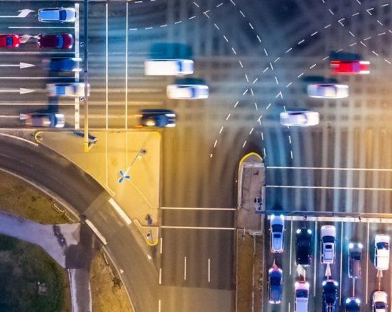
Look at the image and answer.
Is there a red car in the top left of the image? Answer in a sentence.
Yes, there is a red car in the top left of the image.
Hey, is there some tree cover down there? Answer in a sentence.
No, the scene doesn't show any tree cover.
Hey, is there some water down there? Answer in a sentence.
No, the picture contains no water.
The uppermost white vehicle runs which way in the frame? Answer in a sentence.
What the image shows is the uppermost white vehicle lying horizontally.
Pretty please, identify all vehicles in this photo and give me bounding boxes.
[345,297,362,312]
[319,225,337,264]
[295,227,314,267]
[138,110,176,127]
[0,31,22,49]
[371,289,389,312]
[330,58,368,75]
[45,55,84,72]
[168,83,208,100]
[321,279,339,312]
[266,266,285,304]
[38,5,76,23]
[292,280,311,312]
[373,232,392,272]
[146,57,192,76]
[25,111,64,128]
[268,216,286,254]
[281,108,319,127]
[47,82,84,98]
[307,82,348,99]
[37,31,74,50]
[347,241,364,279]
